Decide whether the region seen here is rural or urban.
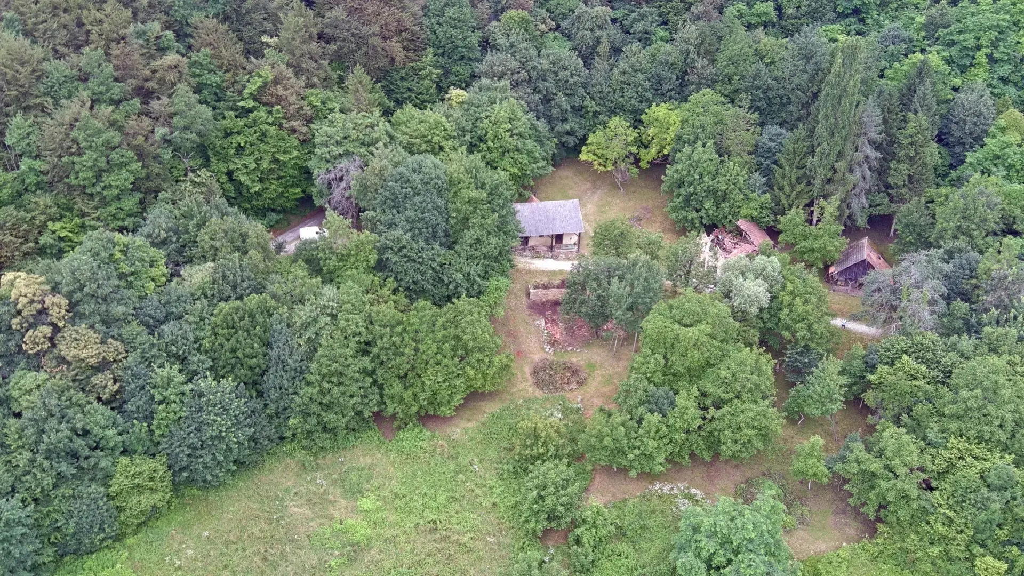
rural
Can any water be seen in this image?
No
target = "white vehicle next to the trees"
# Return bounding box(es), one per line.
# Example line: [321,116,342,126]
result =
[295,225,328,244]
